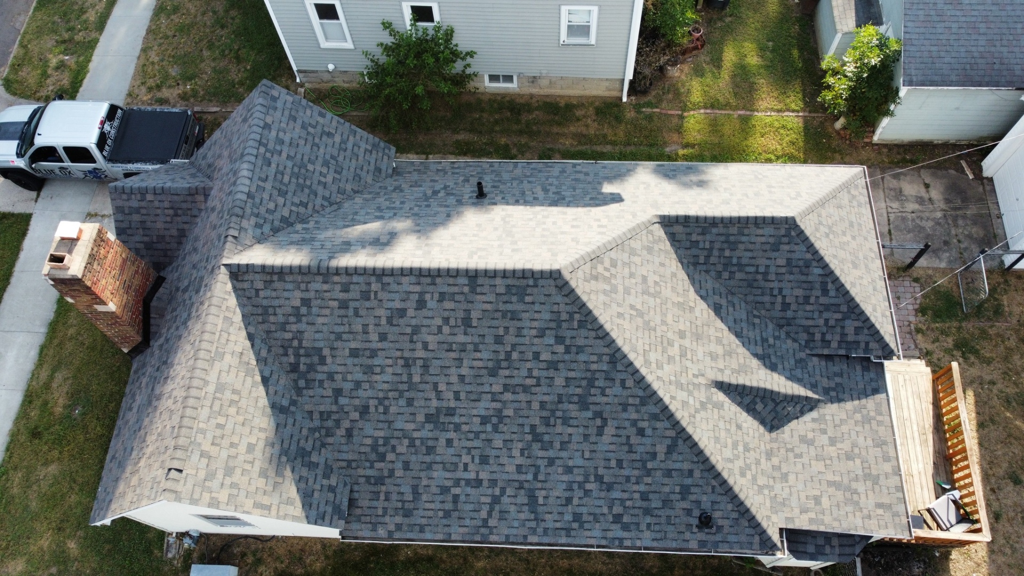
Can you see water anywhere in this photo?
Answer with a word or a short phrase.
No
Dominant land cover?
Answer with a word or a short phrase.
buildings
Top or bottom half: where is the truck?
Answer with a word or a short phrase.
top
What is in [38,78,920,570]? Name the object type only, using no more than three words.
house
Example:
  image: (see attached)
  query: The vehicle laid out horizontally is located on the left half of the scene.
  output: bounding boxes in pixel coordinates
[0,90,220,192]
